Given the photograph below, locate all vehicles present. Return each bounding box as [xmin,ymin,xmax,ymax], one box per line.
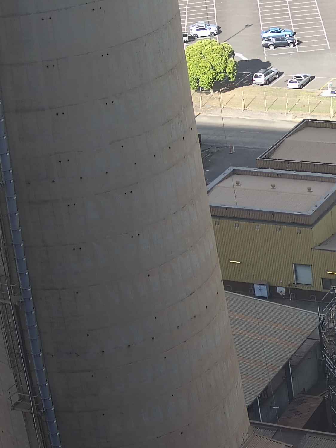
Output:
[254,67,279,83]
[263,26,292,37]
[188,22,217,37]
[264,33,298,47]
[289,72,312,86]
